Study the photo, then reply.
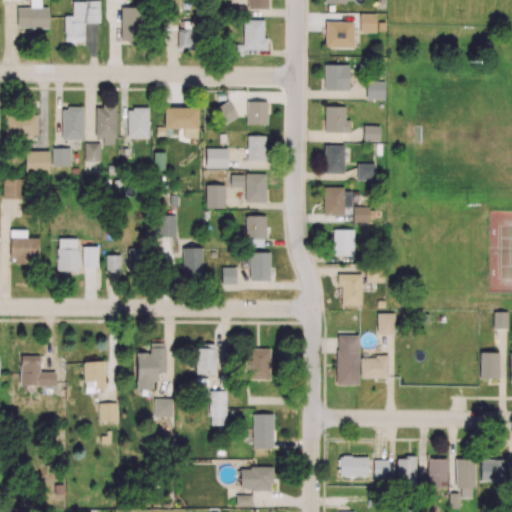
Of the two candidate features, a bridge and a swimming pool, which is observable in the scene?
swimming pool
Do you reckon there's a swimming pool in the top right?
No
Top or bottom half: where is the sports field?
top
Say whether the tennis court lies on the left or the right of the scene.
right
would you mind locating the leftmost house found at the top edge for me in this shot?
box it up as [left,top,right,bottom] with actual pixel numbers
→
[18,0,50,30]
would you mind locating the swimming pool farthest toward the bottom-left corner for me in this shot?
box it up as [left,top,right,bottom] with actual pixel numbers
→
[218,466,239,485]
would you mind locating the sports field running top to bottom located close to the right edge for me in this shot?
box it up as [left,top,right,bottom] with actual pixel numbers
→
[389,26,512,308]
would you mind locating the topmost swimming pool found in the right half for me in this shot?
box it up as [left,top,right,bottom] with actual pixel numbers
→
[360,332,380,350]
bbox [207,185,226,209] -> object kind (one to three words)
building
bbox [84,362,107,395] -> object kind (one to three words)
house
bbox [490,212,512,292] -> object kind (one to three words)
tennis court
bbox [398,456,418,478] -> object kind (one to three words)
house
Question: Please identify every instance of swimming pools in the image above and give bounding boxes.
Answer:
[360,332,380,350]
[218,466,239,485]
